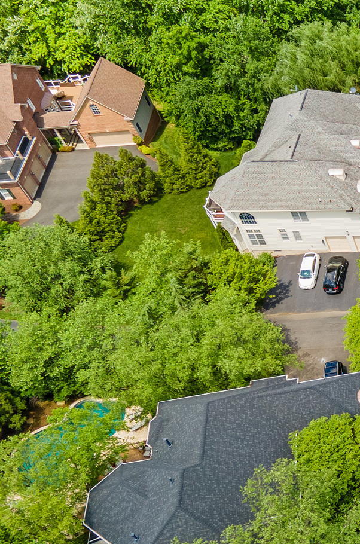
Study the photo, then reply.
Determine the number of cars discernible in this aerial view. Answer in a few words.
three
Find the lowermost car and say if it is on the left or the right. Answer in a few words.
right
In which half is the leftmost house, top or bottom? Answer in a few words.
top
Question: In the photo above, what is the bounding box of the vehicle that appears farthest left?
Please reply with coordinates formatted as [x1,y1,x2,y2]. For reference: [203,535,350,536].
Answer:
[295,250,319,285]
